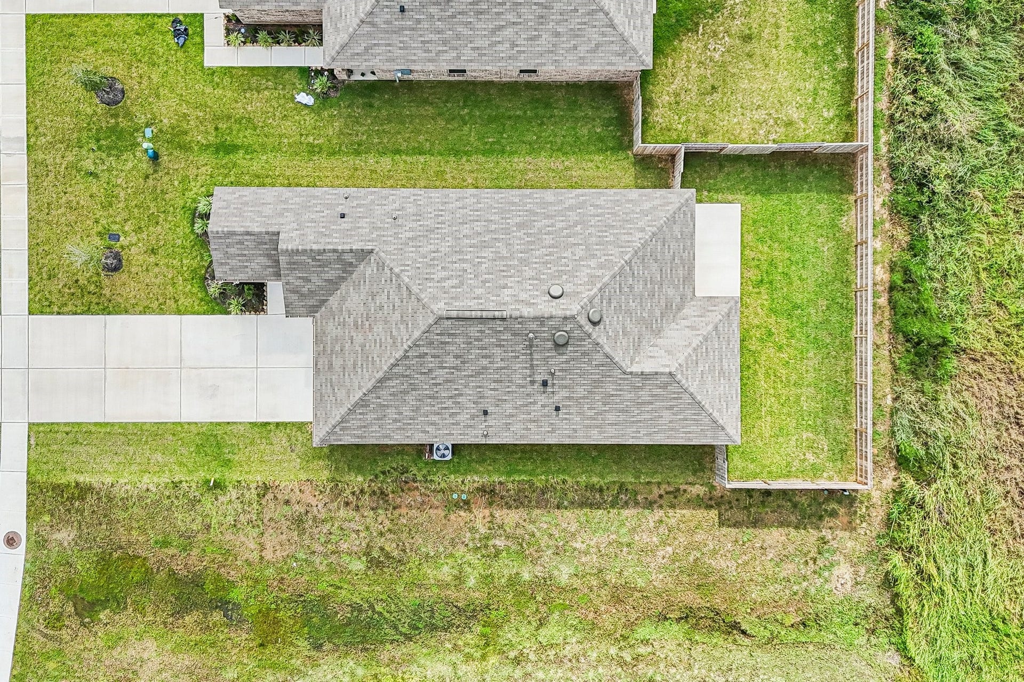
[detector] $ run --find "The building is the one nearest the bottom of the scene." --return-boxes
[208,186,742,448]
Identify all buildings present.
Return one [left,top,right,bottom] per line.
[219,0,654,82]
[208,186,742,448]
